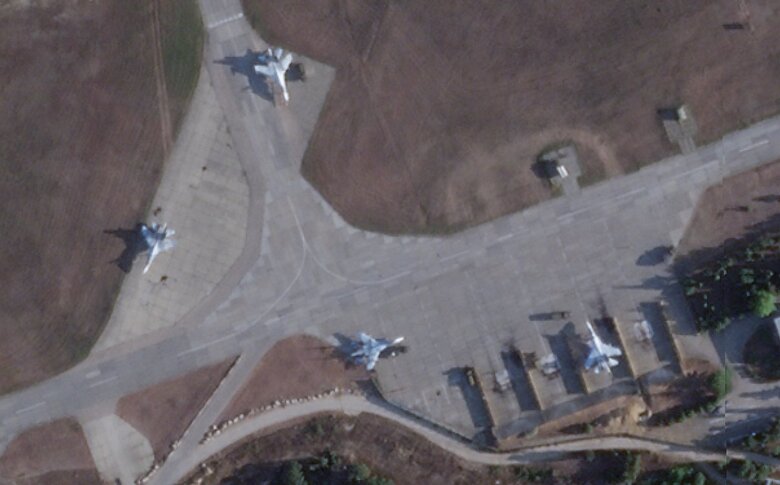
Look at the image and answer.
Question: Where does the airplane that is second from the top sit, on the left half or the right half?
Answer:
left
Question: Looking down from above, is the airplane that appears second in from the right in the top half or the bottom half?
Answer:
bottom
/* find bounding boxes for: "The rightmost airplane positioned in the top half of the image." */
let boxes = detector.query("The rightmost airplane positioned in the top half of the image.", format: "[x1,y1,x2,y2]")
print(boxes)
[255,47,293,102]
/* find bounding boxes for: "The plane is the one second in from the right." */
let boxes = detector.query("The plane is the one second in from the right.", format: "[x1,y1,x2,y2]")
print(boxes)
[348,331,404,370]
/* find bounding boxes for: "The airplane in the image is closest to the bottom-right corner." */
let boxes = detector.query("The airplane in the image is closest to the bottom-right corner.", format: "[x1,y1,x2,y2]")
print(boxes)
[583,323,622,378]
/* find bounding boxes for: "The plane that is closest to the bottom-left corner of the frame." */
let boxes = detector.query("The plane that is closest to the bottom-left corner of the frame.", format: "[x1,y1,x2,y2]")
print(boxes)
[141,218,179,272]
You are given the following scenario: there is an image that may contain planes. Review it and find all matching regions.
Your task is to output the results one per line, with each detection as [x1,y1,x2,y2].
[348,331,404,370]
[141,218,179,272]
[583,323,622,378]
[255,47,293,102]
